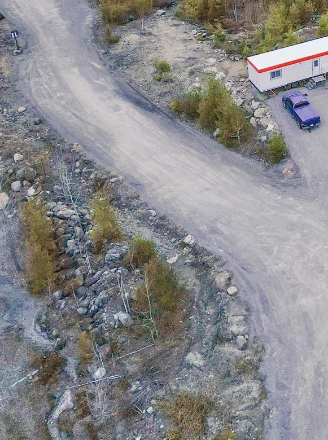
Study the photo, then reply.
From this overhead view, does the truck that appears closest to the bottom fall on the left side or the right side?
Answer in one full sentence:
You can find the truck that appears closest to the bottom on the right side of the picture.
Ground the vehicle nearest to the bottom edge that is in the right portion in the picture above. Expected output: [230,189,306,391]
[285,91,320,130]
